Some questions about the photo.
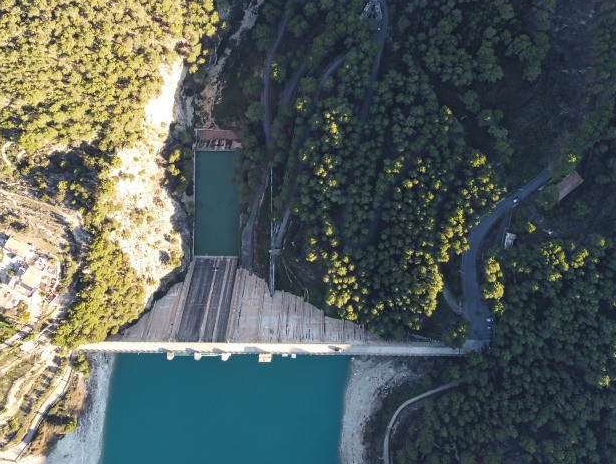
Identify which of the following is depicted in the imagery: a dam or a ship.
dam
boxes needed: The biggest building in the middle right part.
[548,170,585,201]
